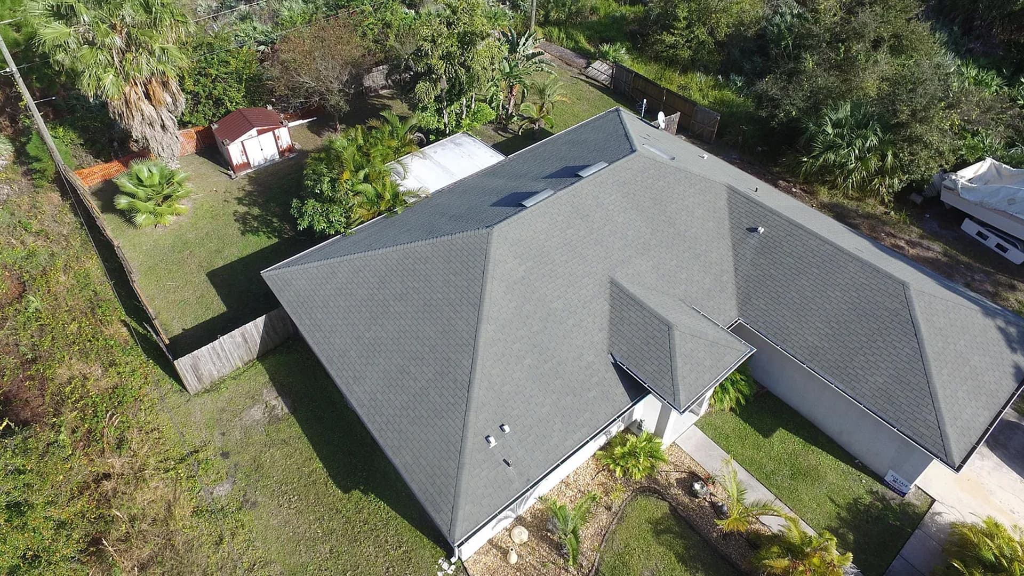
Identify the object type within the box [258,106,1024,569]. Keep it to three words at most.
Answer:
house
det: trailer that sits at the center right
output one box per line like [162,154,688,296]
[941,196,1024,258]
